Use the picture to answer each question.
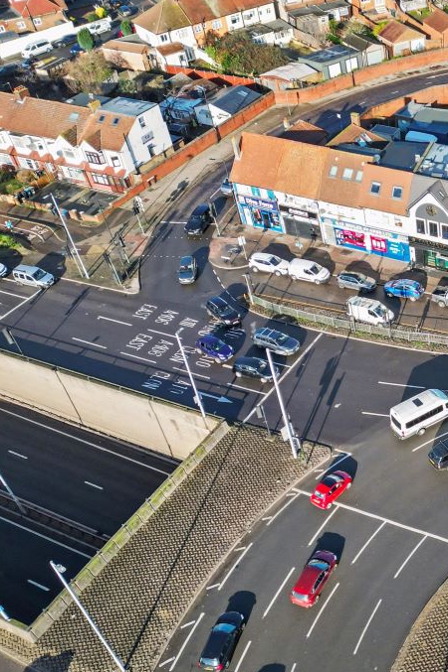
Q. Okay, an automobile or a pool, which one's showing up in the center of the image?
automobile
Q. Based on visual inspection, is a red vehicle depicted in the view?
Yes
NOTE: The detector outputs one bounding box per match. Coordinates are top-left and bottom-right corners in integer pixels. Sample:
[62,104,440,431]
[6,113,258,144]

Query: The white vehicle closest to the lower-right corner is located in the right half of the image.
[389,390,448,442]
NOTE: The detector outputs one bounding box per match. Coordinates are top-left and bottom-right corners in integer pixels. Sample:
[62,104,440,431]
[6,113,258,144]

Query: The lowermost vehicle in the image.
[194,609,247,672]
